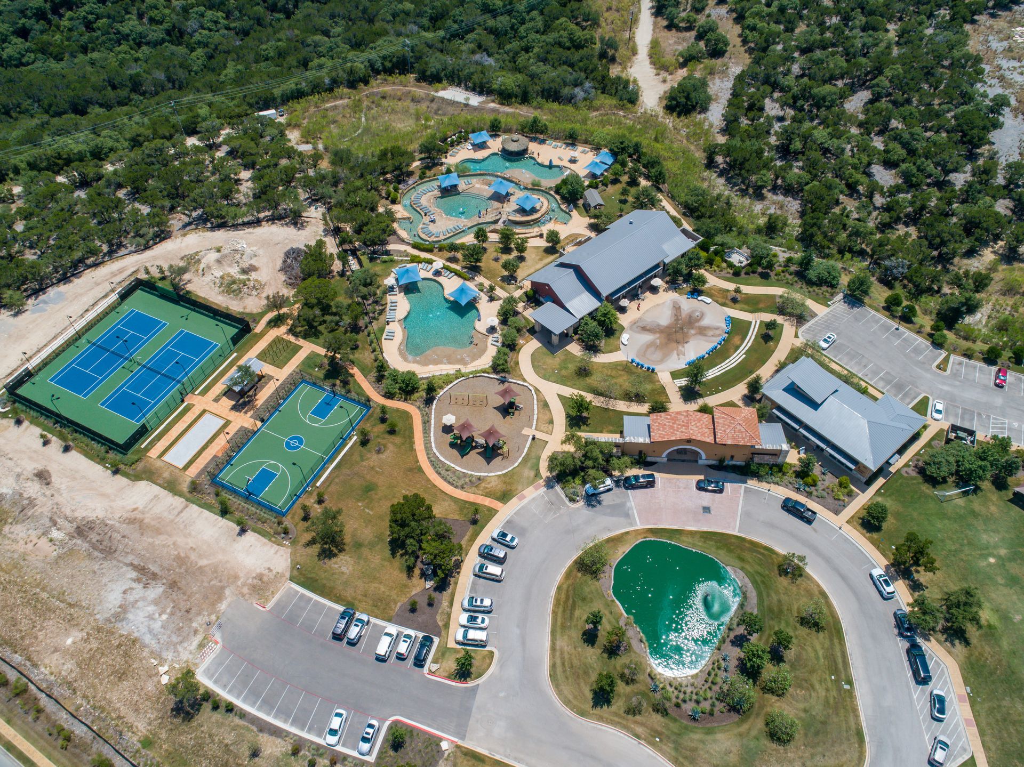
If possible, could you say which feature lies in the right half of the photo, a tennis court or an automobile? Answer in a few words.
automobile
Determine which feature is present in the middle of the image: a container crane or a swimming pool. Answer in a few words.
swimming pool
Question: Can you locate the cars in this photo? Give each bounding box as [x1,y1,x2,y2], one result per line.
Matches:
[358,719,380,757]
[928,734,952,767]
[375,627,399,662]
[332,610,355,641]
[479,545,507,563]
[994,368,1009,389]
[463,596,493,612]
[346,614,370,646]
[473,563,505,582]
[871,571,895,600]
[932,400,945,421]
[697,479,724,494]
[586,477,613,495]
[327,710,348,747]
[491,530,520,547]
[929,689,948,724]
[412,634,435,670]
[822,333,838,350]
[277,106,285,118]
[455,627,488,646]
[459,613,489,630]
[395,629,418,661]
[625,475,655,490]
[893,608,916,639]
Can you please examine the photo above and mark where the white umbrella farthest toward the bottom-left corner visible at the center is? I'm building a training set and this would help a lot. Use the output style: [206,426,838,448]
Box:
[442,414,457,426]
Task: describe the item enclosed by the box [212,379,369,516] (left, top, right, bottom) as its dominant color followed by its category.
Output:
green basketball court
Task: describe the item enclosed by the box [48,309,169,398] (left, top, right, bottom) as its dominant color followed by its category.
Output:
blue tennis court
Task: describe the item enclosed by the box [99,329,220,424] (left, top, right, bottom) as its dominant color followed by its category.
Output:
blue tennis court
